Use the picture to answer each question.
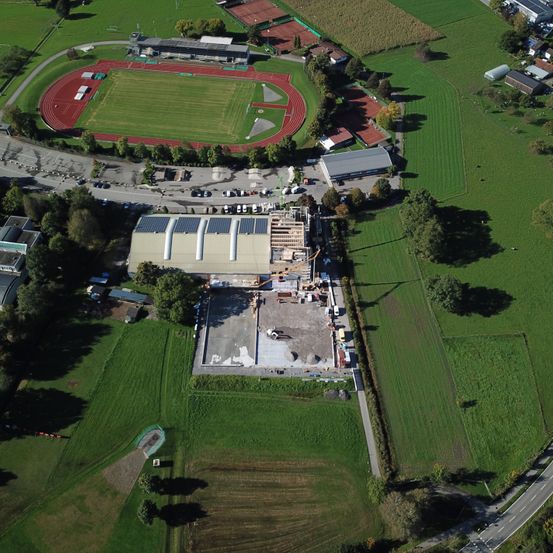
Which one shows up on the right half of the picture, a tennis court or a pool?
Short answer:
tennis court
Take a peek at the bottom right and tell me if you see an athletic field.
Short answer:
No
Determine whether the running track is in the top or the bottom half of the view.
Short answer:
top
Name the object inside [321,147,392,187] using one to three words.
building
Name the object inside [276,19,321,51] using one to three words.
tennis court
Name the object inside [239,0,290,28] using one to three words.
tennis court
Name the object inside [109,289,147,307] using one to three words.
shed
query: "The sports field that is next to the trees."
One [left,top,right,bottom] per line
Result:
[73,68,291,144]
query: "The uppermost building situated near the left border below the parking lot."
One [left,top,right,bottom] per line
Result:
[0,215,41,281]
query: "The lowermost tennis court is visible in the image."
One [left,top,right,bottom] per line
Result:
[354,121,390,148]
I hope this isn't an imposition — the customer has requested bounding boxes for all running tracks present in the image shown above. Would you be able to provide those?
[37,58,306,154]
